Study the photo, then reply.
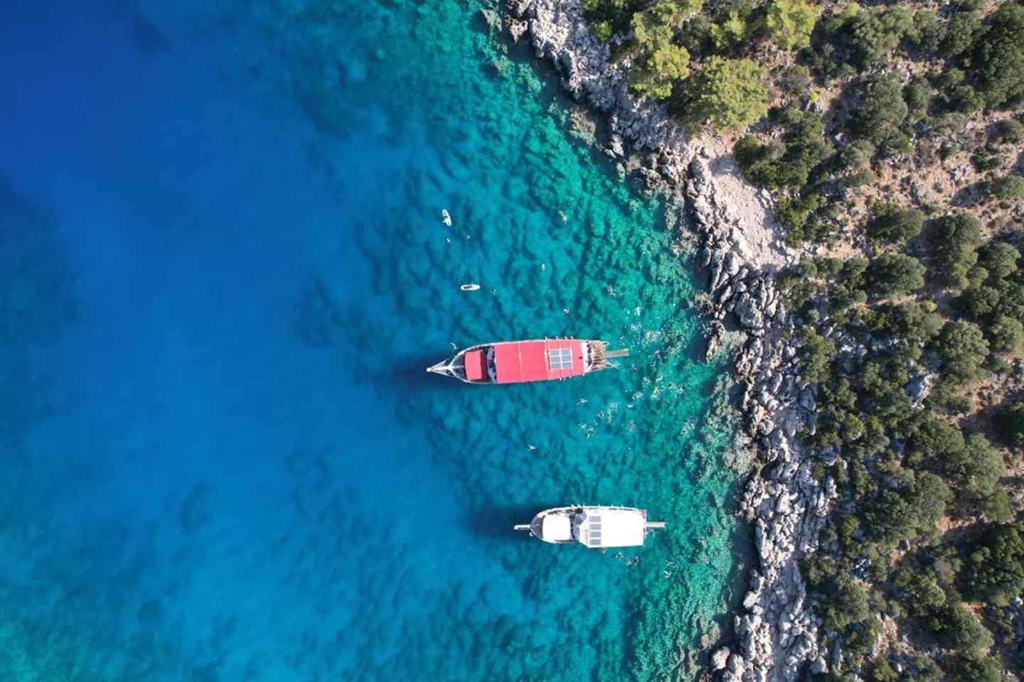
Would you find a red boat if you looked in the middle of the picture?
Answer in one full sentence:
Yes, I can see a red boat in the middle of the picture.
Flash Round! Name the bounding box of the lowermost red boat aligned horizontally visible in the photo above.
[426,338,630,384]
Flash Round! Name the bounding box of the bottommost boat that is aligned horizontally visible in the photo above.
[514,503,667,548]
